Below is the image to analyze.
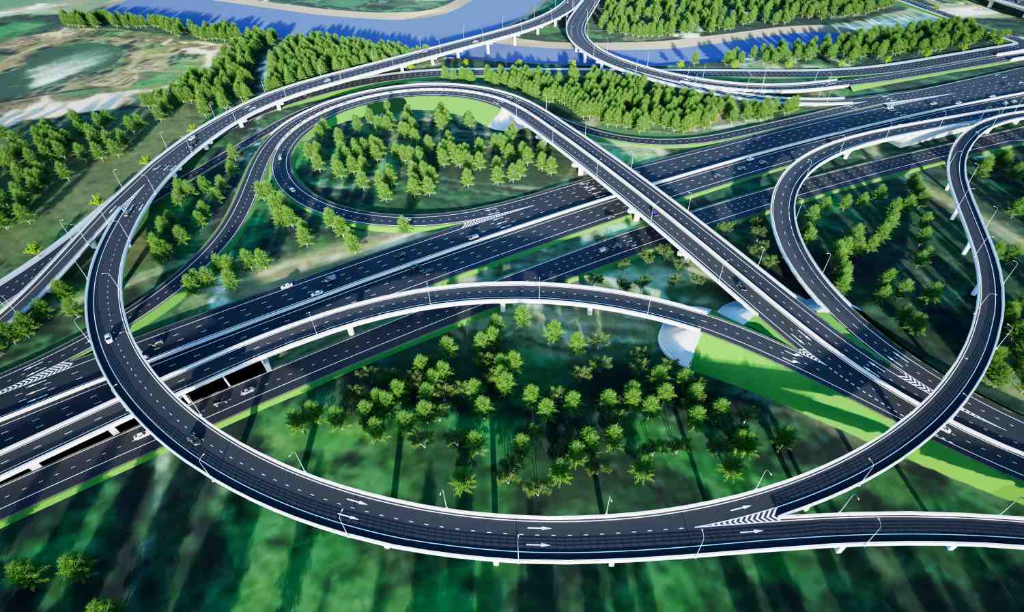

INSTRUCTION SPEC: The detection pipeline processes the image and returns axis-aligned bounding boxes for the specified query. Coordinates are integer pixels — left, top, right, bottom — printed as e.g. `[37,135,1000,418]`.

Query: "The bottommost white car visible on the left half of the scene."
[130,428,149,442]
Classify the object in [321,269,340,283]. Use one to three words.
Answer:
vehicle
